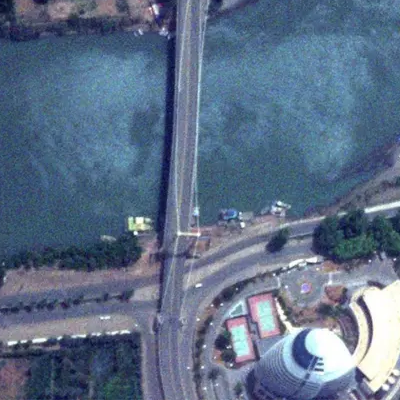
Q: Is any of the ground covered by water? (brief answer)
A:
Yes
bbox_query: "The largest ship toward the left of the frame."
[127,218,152,232]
